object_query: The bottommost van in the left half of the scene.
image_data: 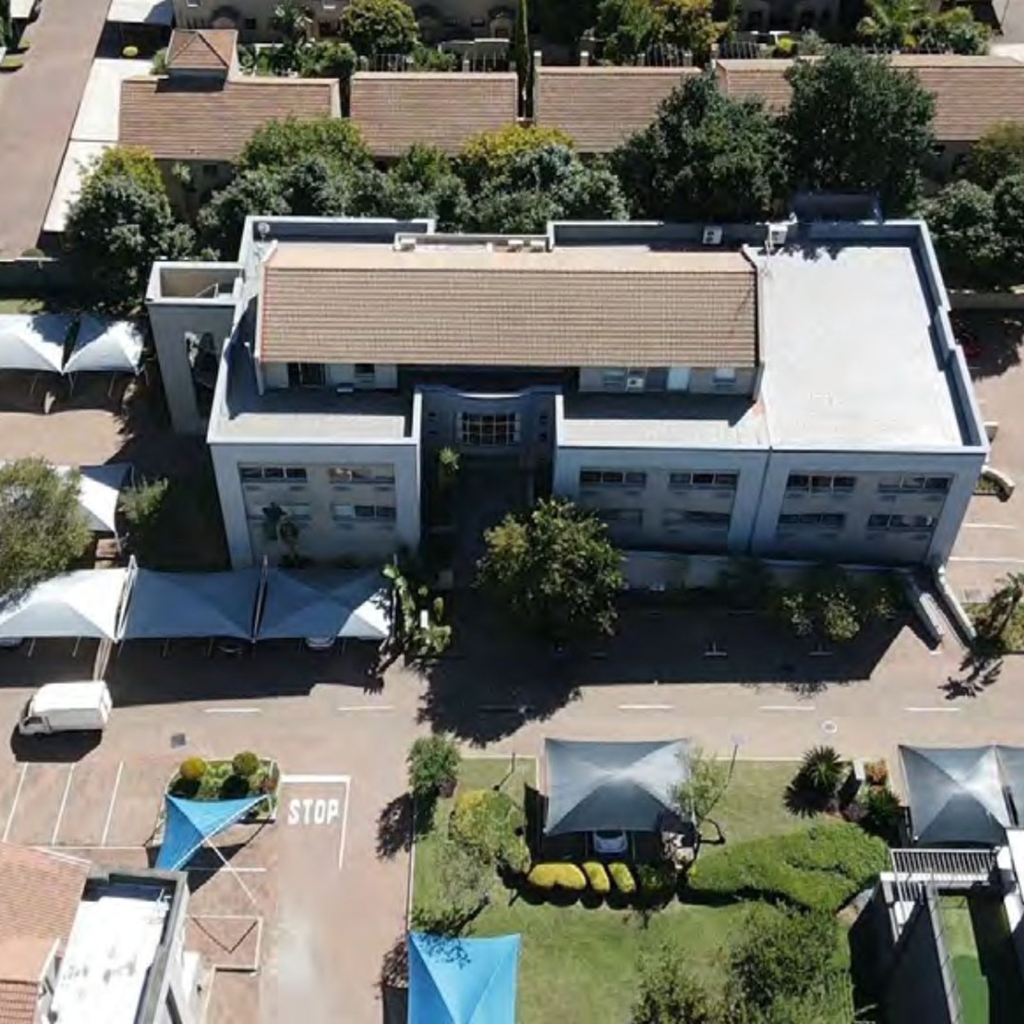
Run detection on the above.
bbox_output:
[17,676,112,731]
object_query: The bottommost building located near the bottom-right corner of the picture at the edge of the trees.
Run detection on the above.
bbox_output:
[861,831,1024,1024]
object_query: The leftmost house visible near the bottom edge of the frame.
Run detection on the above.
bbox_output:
[0,842,93,1024]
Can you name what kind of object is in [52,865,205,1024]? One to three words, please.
building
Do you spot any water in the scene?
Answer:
No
